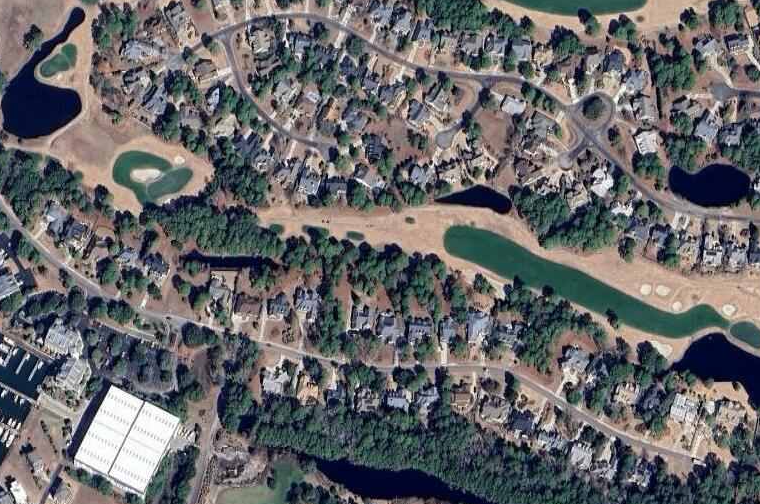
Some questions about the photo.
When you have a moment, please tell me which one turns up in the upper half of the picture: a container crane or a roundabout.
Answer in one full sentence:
The feature located in the upper half of the picture is a roundabout.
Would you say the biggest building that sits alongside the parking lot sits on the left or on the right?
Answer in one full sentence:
It is on the left.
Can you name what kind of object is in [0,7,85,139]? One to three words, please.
pond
